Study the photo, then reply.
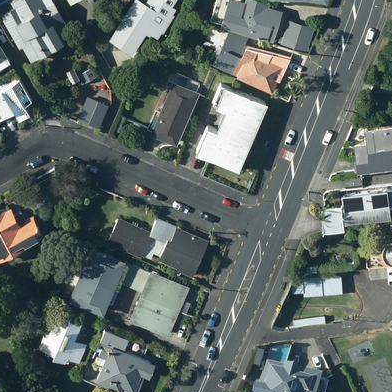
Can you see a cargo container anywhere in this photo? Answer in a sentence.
No, the scene contains no cargo container.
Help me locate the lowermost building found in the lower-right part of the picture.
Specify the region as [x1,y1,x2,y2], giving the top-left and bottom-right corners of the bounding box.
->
[252,358,330,392]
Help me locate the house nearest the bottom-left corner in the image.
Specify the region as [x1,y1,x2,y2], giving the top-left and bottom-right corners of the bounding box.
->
[38,323,87,365]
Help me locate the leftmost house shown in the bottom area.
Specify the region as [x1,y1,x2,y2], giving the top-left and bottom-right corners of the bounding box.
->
[0,208,38,262]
